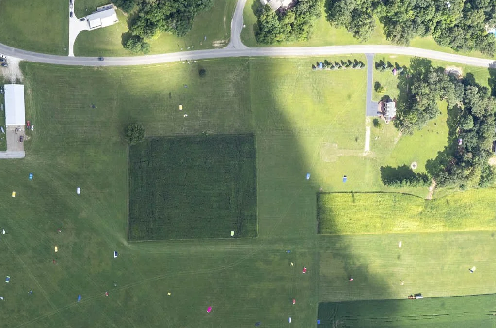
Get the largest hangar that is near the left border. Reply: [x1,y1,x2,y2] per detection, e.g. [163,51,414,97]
[4,84,25,126]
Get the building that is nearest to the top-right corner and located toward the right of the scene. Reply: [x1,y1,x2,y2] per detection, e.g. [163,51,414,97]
[371,99,395,121]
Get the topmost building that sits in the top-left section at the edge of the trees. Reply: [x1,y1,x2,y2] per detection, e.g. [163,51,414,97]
[86,4,117,32]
